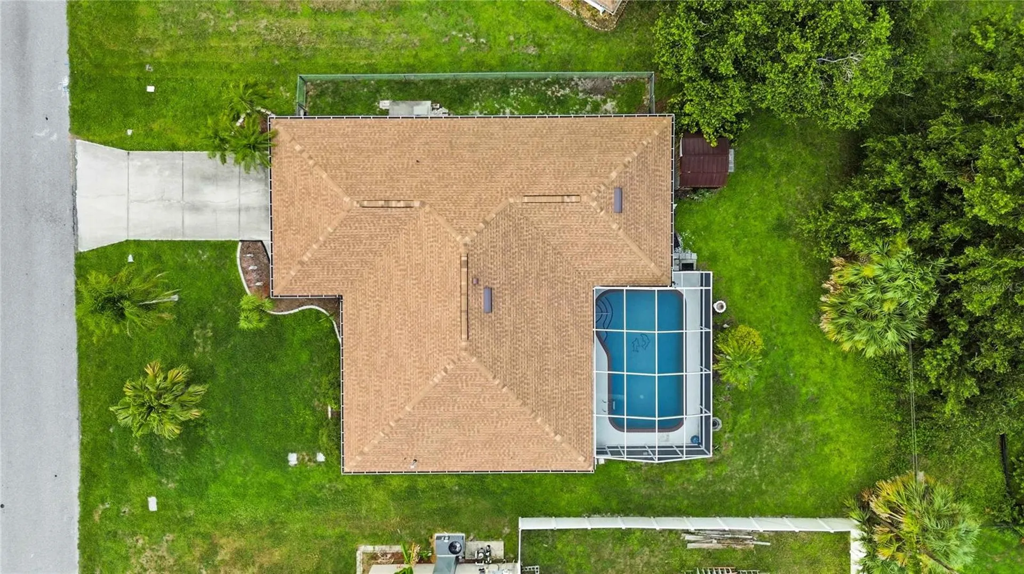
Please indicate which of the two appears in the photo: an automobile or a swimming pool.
swimming pool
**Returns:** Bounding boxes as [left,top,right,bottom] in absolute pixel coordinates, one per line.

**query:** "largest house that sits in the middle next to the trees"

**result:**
[270,116,673,472]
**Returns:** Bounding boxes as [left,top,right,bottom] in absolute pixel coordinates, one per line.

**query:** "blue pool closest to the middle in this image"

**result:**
[595,289,684,433]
